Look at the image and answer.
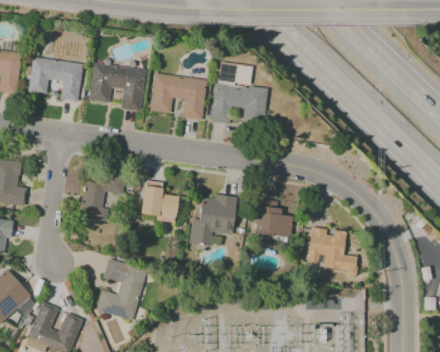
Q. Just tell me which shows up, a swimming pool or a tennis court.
swimming pool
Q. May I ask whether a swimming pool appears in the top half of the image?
Yes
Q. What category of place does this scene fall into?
residential area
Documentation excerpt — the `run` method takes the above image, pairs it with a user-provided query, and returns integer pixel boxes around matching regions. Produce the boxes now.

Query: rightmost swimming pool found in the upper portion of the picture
[182,51,207,69]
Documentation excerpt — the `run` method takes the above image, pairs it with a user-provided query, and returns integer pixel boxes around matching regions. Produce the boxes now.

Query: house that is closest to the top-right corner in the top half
[211,64,270,124]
